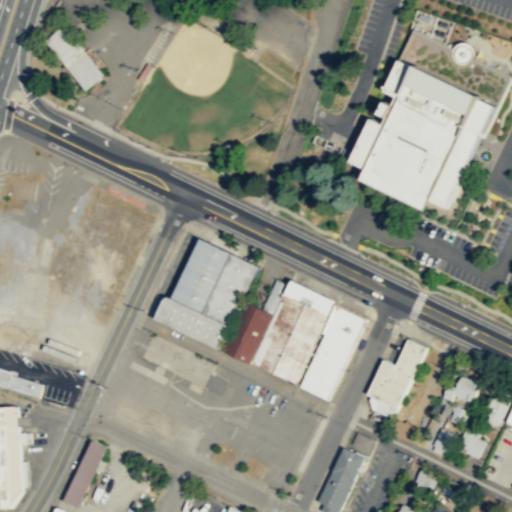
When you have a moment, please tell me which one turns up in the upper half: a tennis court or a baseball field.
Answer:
baseball field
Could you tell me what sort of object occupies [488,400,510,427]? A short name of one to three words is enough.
house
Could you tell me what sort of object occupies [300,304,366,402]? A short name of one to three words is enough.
building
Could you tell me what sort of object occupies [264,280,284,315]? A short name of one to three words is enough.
shed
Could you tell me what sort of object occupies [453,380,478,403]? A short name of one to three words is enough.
house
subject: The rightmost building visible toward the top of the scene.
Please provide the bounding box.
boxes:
[347,10,512,210]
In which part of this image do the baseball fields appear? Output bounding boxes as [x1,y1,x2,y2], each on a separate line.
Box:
[124,23,290,150]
